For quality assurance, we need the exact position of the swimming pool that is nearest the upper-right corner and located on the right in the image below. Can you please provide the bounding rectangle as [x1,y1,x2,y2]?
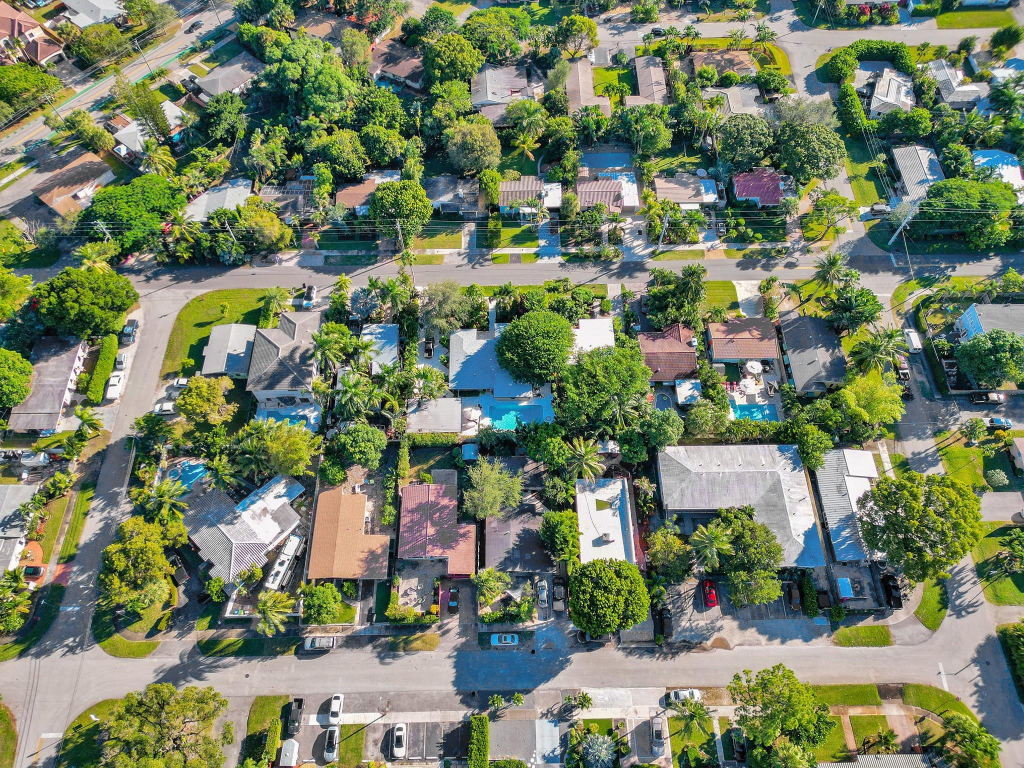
[861,60,894,72]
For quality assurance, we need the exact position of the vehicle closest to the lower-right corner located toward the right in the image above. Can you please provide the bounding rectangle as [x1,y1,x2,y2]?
[881,575,901,610]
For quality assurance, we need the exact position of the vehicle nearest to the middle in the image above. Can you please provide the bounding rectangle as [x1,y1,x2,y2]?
[423,336,435,361]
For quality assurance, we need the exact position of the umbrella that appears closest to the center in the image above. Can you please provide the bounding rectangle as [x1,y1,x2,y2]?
[465,407,480,421]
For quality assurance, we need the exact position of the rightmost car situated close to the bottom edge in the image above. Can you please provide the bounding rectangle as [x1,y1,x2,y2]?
[730,728,748,763]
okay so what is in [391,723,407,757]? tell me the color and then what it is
white car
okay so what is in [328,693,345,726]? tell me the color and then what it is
white car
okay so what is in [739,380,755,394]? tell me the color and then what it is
white umbrella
